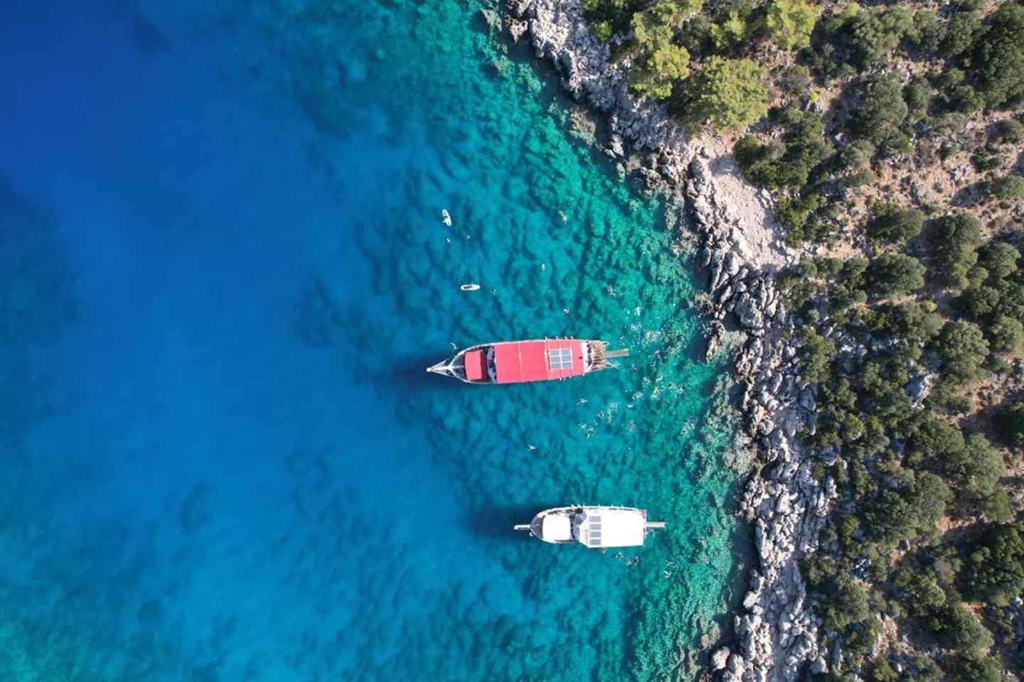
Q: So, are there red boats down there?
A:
Yes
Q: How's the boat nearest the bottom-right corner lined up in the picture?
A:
horizontally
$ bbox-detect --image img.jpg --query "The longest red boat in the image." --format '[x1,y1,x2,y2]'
[426,338,630,384]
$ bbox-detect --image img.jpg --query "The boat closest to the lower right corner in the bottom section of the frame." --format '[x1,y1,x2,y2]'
[514,503,667,548]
